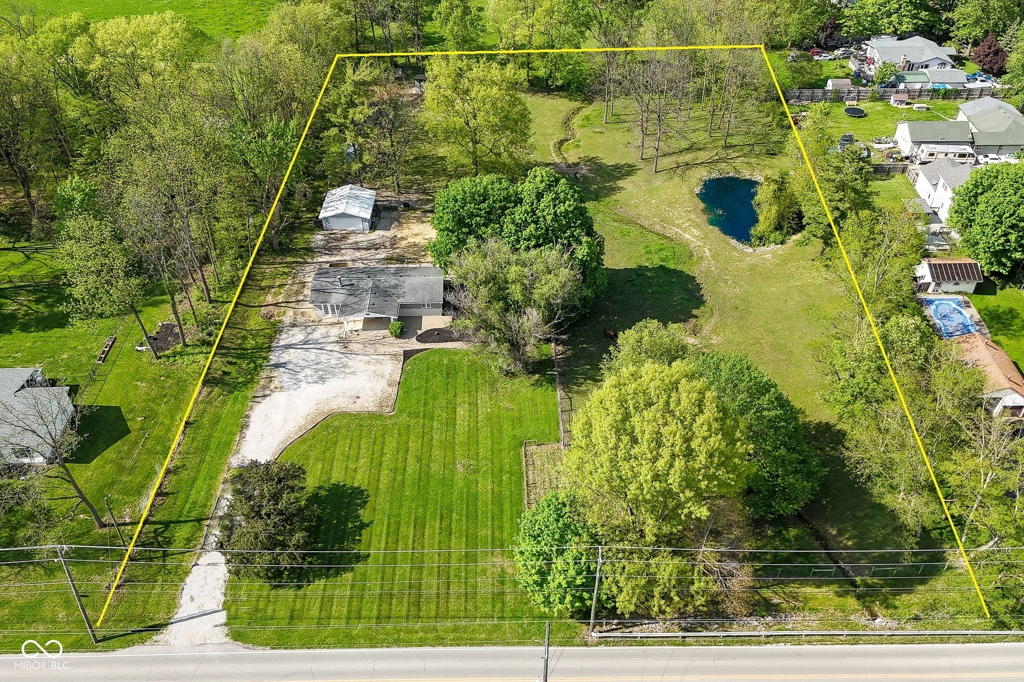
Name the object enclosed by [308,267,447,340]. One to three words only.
house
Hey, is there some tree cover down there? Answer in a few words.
Yes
